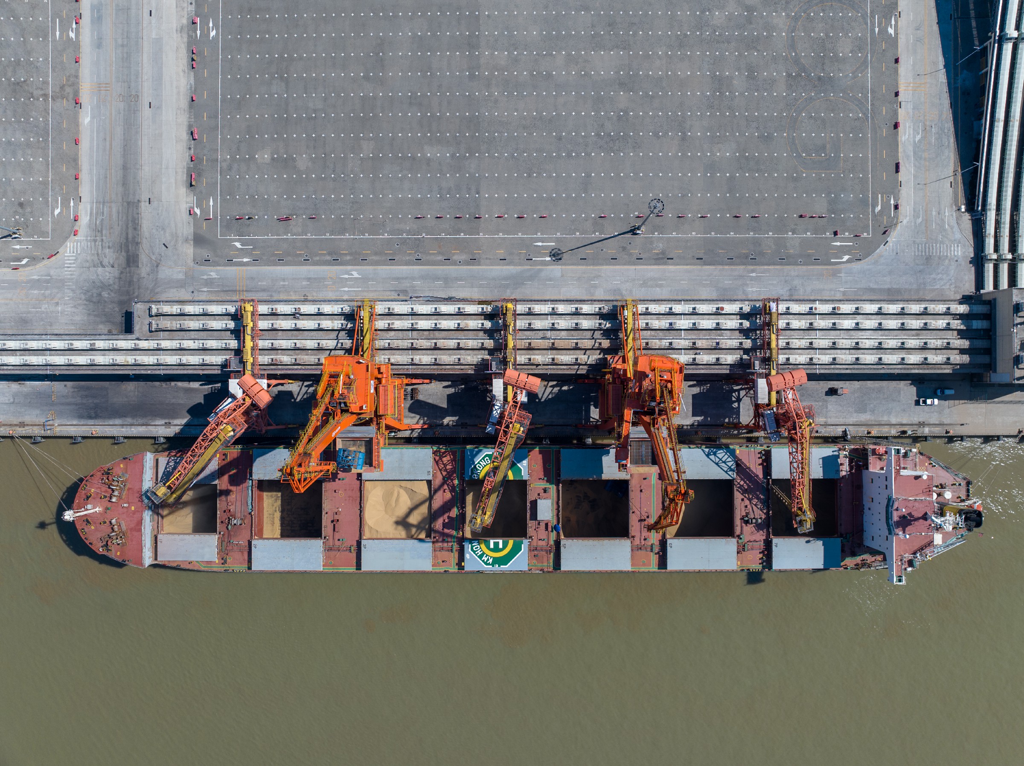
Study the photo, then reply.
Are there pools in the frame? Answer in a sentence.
No, the frame has no pool in it.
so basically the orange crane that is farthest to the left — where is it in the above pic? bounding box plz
[276,297,432,494]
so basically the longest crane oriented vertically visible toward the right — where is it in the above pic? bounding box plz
[572,297,695,537]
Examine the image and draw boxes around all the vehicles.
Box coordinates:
[938,388,959,396]
[828,387,852,395]
[920,399,940,406]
